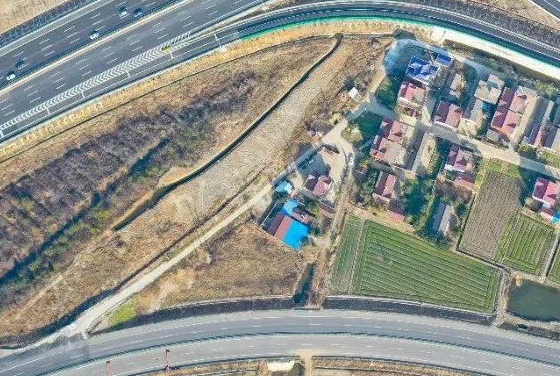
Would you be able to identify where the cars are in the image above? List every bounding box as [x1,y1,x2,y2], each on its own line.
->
[133,11,141,17]
[5,75,15,81]
[90,32,98,38]
[15,63,25,70]
[118,9,127,15]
